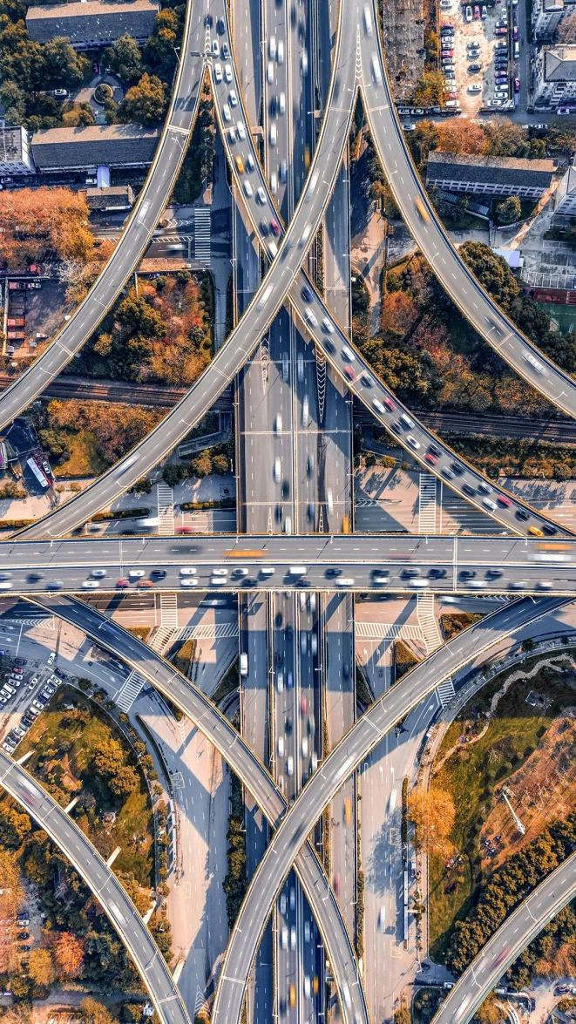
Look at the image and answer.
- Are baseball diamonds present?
No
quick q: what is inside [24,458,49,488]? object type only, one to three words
bus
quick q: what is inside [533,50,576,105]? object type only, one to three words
building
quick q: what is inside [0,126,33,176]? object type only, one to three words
building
